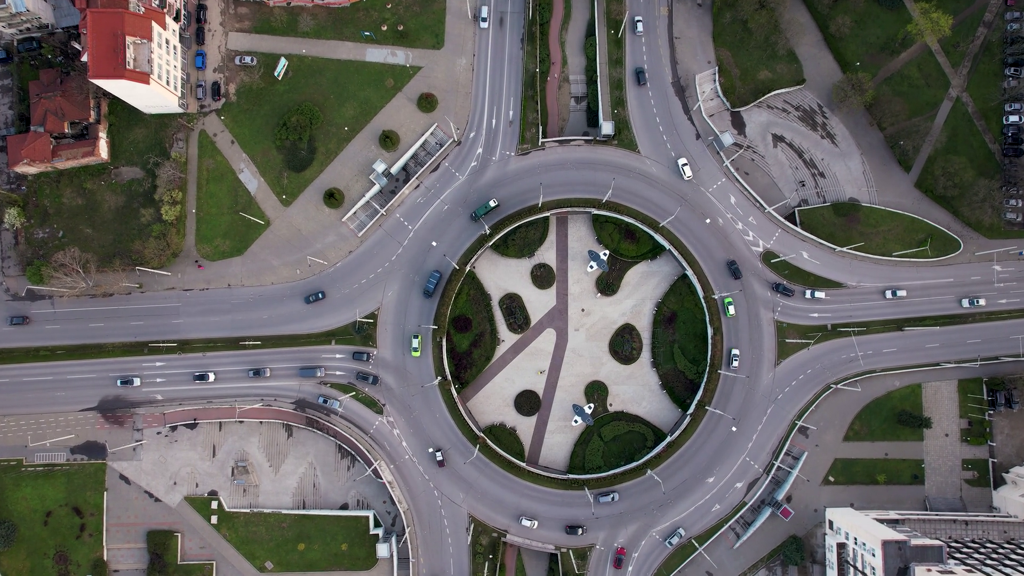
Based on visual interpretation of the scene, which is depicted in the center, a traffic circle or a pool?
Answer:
traffic circle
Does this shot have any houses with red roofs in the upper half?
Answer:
Yes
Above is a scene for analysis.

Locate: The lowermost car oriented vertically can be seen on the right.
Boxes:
[613,545,626,570]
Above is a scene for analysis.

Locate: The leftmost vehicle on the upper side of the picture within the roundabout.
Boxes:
[470,198,499,222]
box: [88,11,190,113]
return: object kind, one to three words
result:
building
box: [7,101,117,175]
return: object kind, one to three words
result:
house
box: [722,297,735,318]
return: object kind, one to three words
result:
vehicle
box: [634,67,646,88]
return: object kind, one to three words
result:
vehicle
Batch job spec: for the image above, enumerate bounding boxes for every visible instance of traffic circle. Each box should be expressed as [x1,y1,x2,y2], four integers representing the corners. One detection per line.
[379,149,776,547]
